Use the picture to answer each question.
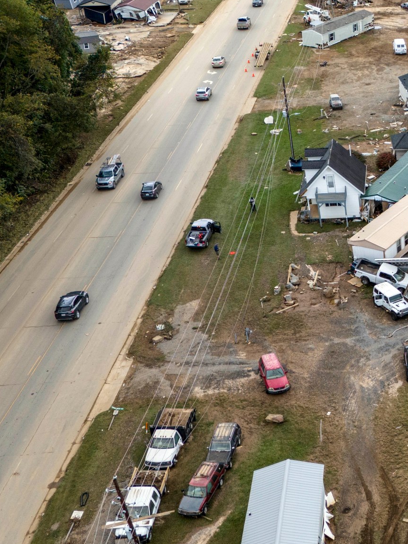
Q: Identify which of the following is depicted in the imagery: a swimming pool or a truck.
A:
truck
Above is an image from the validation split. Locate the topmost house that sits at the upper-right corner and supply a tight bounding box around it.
[300,9,376,51]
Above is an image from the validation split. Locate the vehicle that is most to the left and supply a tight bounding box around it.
[53,292,89,321]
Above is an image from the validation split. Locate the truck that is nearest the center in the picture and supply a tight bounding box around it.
[190,220,223,249]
